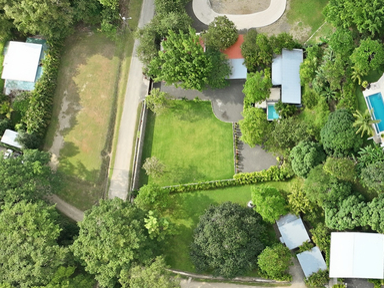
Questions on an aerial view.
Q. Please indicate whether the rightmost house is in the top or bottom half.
bottom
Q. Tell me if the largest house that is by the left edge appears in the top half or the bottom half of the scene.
top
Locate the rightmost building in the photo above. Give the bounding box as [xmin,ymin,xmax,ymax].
[329,233,384,279]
